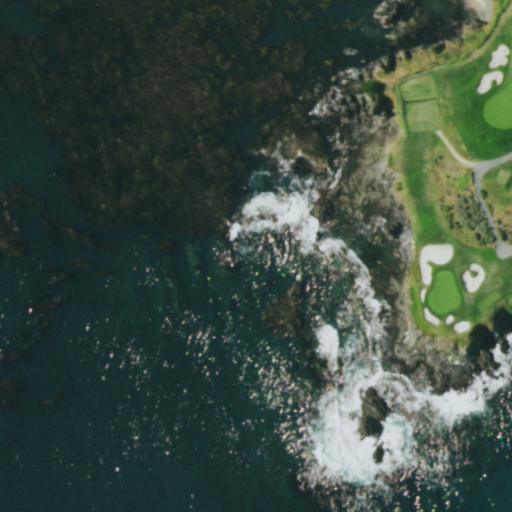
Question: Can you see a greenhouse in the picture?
No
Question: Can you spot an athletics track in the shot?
No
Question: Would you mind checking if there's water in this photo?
Yes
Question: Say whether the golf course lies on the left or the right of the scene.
right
